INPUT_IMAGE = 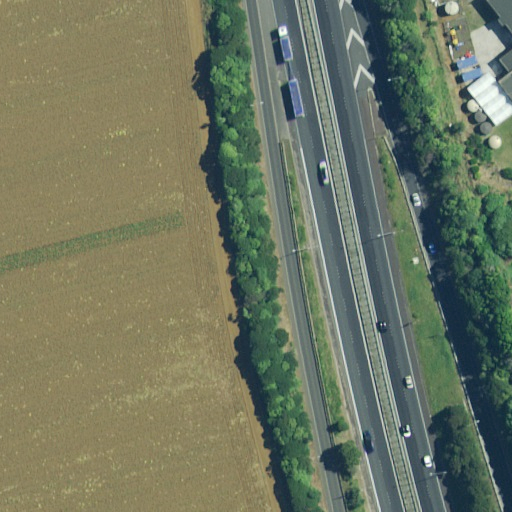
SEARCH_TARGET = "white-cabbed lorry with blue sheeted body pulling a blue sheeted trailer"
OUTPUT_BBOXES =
[278,25,304,117]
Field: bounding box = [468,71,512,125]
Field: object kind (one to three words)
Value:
shed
